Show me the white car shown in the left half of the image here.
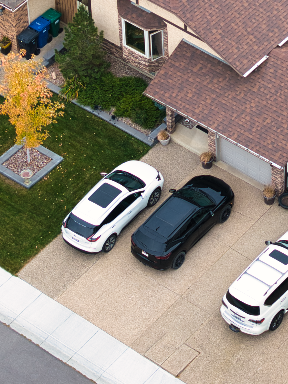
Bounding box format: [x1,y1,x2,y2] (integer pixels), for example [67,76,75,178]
[52,161,161,259]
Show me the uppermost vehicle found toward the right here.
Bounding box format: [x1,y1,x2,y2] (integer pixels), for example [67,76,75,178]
[124,176,233,277]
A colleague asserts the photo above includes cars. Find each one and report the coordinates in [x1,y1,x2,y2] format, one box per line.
[124,176,233,277]
[214,230,288,341]
[52,161,161,259]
